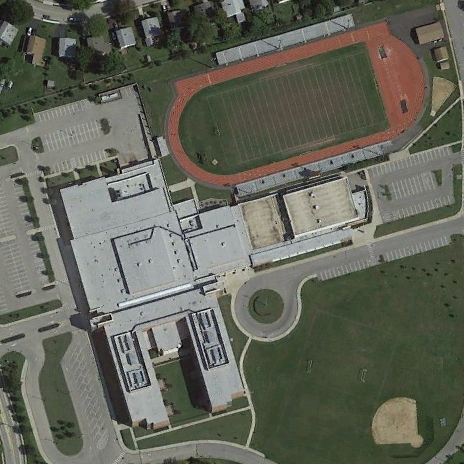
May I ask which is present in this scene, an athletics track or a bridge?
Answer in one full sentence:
Of the two, only an athletics track appears.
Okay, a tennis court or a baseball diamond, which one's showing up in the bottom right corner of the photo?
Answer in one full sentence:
There is a baseball diamond in the bottom right corner of the photo.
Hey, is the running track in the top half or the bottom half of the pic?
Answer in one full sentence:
The top half of the photo is where the running track is.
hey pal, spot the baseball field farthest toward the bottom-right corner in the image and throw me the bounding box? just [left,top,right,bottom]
[372,397,424,448]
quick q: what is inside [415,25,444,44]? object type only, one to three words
building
